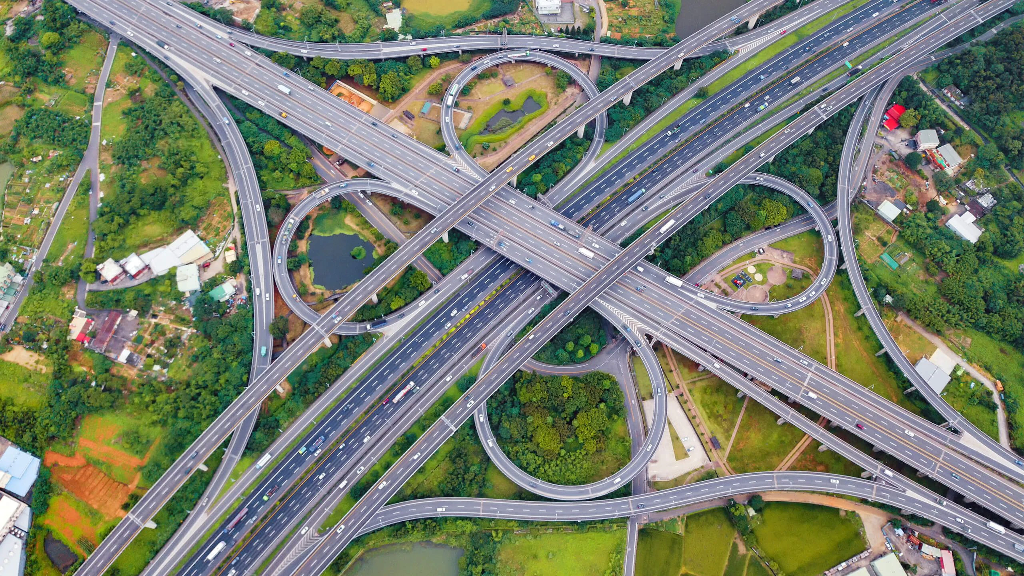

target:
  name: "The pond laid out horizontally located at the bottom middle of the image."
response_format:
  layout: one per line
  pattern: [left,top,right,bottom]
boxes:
[351,539,462,576]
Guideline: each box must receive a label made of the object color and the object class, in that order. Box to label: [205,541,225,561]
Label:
white bus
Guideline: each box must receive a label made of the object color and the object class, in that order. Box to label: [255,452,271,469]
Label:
white vehicle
